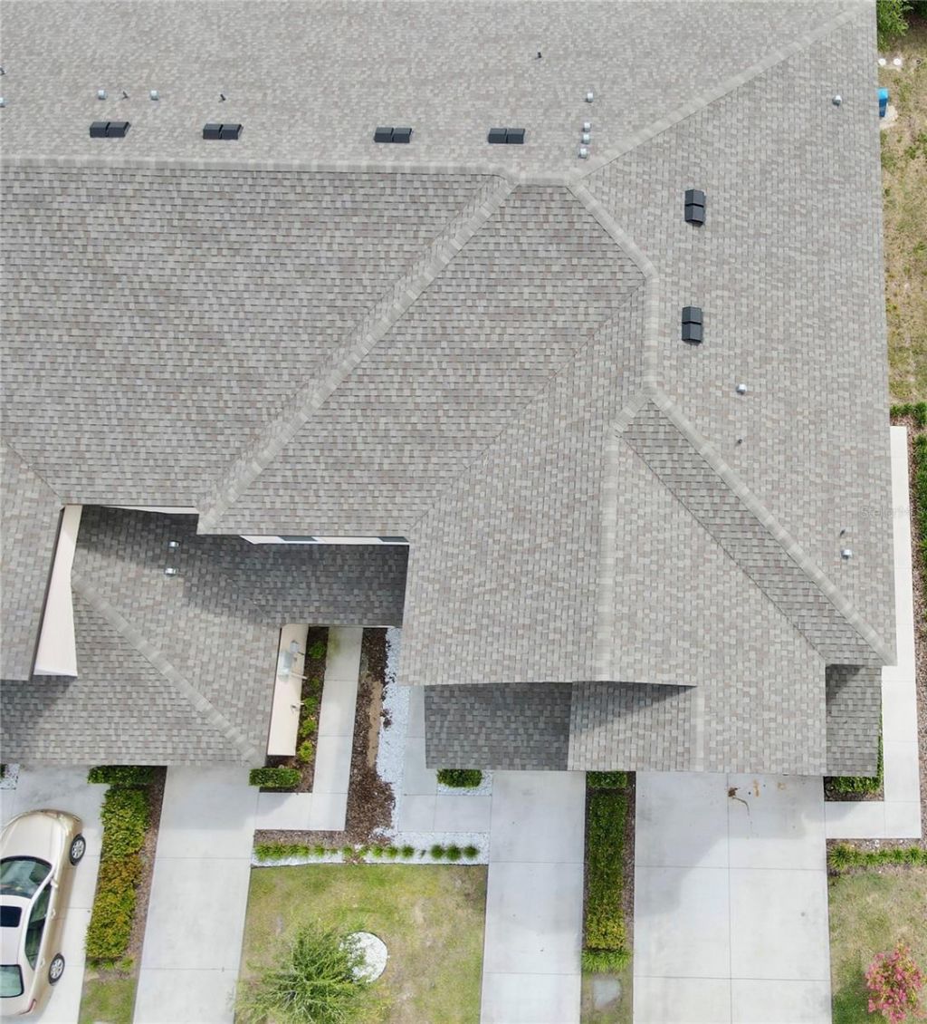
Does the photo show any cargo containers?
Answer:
No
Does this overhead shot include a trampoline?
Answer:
No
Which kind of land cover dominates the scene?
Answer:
buildings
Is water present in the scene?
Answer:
No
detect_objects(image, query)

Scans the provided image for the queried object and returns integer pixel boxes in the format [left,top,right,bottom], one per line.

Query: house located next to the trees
[0,0,896,776]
